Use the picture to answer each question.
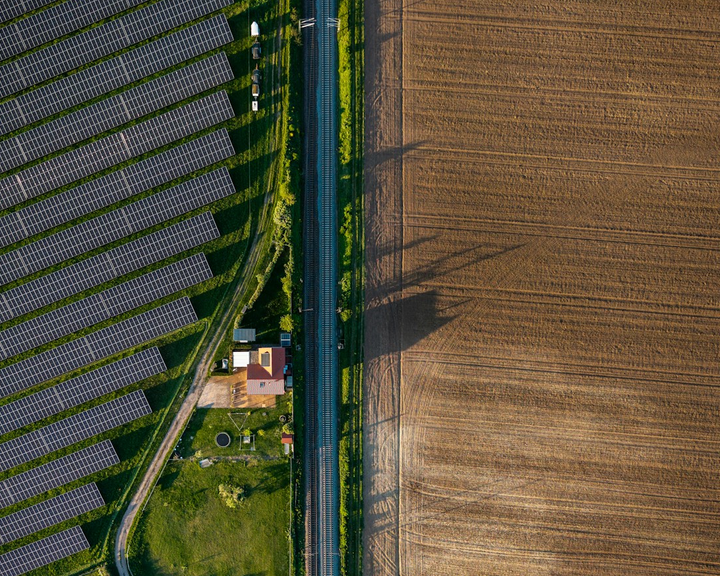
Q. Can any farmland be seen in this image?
Yes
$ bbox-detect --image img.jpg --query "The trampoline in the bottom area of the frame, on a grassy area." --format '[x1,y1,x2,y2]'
[215,433,231,449]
